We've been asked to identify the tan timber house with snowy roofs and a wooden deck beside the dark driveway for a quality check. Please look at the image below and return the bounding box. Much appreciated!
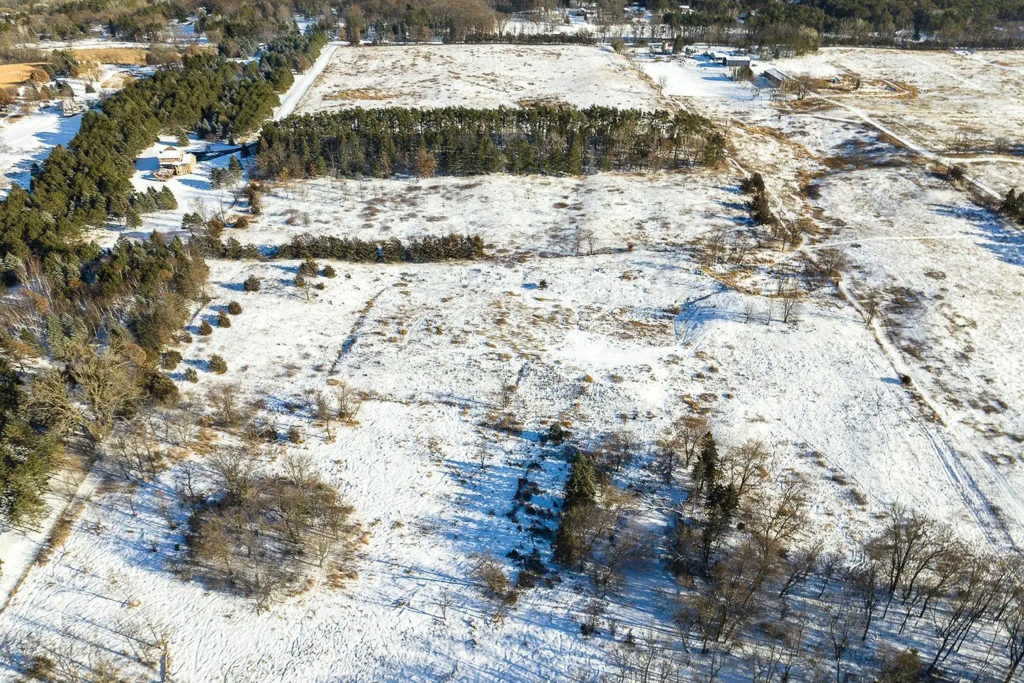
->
[150,149,197,178]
